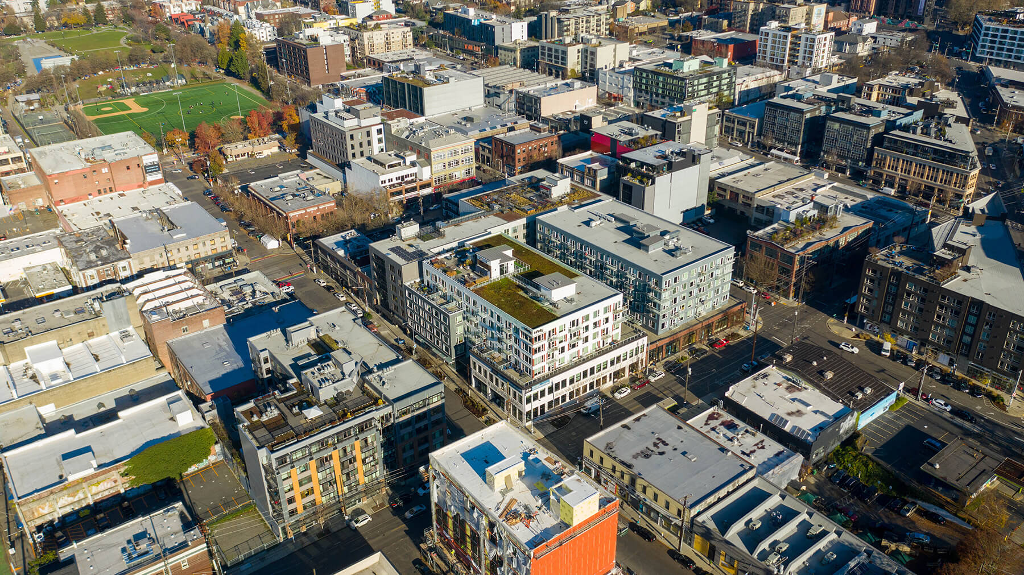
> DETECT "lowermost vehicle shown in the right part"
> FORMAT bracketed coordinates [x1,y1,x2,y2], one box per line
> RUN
[674,552,696,571]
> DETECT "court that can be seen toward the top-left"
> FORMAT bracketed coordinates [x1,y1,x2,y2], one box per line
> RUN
[21,108,78,147]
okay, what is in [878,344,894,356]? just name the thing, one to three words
vehicle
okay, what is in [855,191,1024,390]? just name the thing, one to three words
building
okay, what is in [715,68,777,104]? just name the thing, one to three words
building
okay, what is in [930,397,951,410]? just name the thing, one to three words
vehicle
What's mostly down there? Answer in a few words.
buildings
